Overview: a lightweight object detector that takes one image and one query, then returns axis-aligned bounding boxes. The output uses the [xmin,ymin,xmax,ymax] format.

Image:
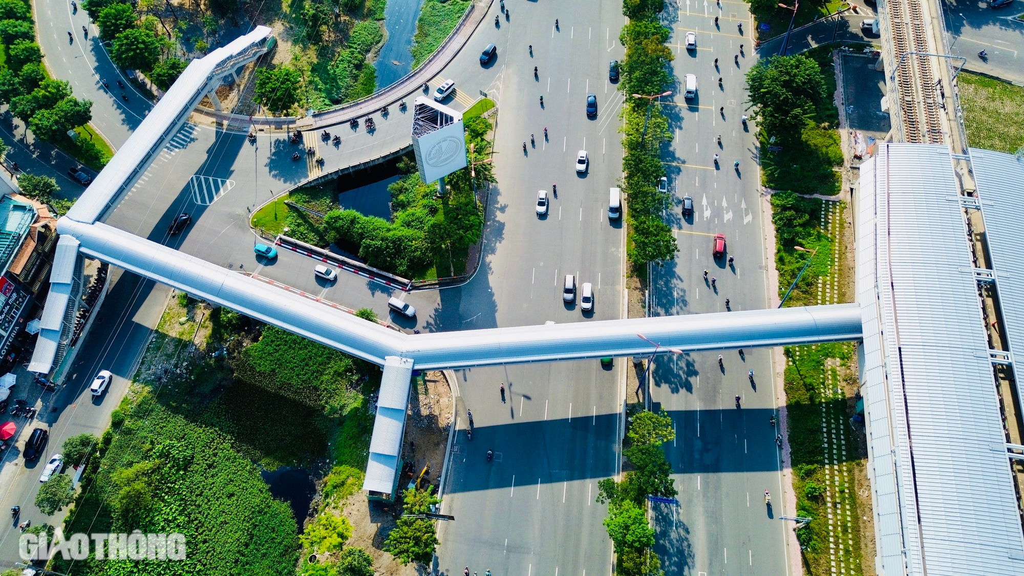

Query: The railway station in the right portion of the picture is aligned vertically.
[849,136,1024,576]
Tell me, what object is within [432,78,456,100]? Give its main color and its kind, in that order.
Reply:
white car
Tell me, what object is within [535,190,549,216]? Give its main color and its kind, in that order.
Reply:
white car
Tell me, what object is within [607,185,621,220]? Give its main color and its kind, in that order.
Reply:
white vehicle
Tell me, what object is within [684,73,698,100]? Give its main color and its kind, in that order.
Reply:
white vehicle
